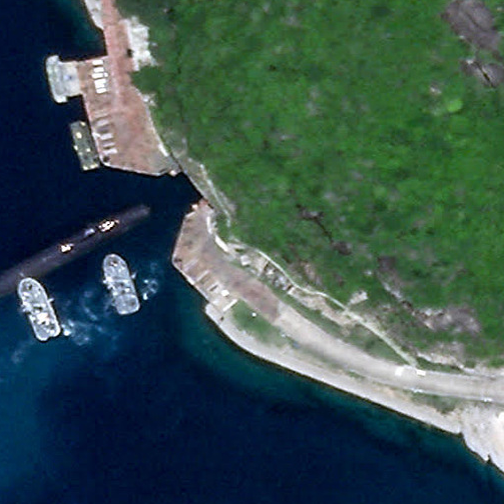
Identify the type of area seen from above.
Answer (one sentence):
What you see here is a port.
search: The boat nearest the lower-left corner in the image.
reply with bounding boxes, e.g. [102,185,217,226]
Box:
[22,278,61,342]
